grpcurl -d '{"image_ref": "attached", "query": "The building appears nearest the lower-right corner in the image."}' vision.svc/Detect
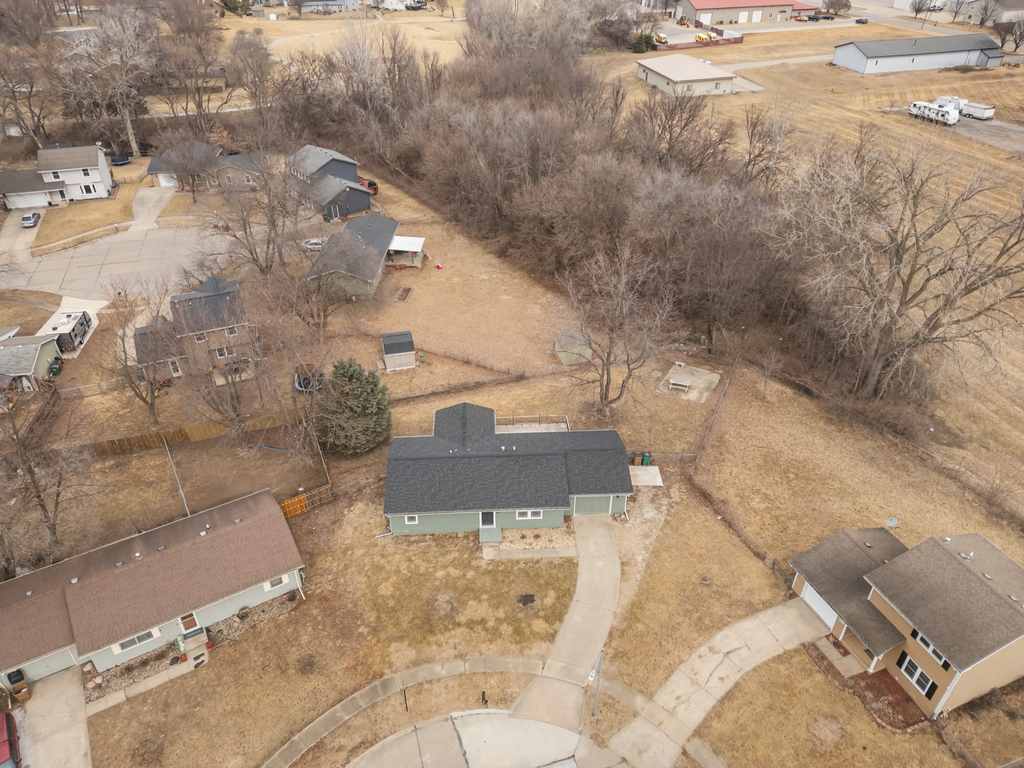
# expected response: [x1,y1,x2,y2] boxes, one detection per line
[786,519,1024,719]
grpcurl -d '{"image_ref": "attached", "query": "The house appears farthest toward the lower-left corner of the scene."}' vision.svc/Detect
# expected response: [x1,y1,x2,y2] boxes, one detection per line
[0,488,312,710]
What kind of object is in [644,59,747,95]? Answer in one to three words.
building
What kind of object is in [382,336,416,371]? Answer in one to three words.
shed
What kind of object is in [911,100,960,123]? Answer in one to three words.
trailer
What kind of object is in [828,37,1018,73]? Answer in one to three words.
barn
